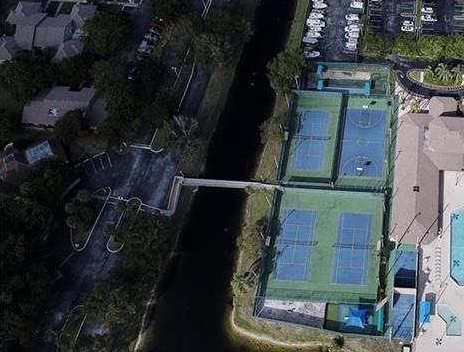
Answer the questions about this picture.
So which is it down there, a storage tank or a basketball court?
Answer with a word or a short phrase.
basketball court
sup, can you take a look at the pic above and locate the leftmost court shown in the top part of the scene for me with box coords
[282,94,344,181]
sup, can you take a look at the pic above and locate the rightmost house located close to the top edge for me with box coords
[31,4,97,67]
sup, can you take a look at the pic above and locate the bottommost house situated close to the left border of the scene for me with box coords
[0,158,28,191]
